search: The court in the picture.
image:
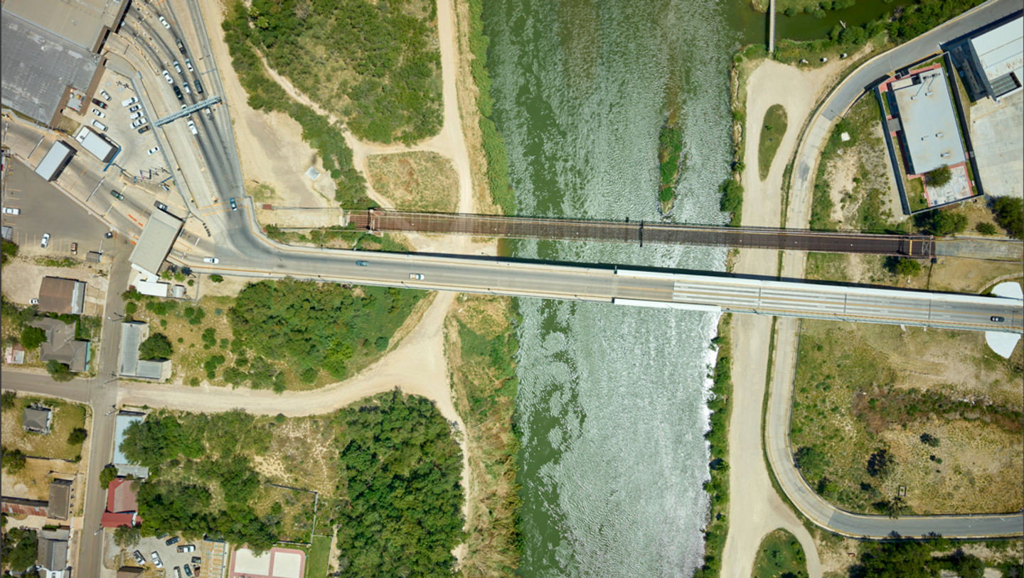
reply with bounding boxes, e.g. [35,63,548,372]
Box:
[229,544,306,578]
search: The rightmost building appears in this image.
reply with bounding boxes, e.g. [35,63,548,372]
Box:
[957,17,1024,87]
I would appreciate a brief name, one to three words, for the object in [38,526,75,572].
house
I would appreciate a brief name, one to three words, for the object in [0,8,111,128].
building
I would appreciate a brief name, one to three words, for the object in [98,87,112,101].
car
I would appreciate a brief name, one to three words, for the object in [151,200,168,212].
vehicle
